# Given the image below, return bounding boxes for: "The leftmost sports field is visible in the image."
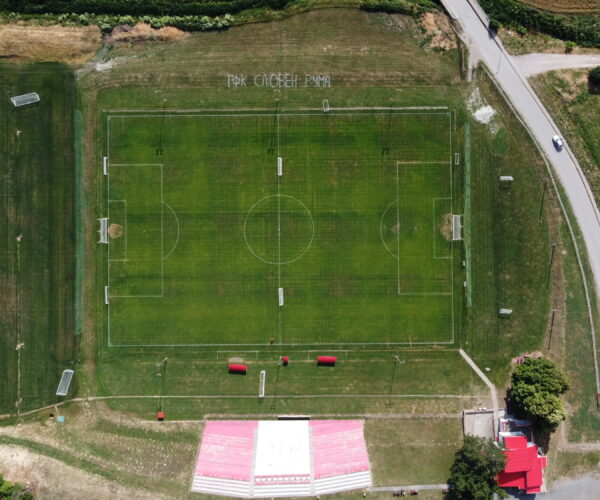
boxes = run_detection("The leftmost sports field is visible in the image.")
[0,66,76,398]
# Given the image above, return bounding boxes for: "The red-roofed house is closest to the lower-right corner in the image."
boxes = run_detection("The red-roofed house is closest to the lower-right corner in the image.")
[497,417,547,495]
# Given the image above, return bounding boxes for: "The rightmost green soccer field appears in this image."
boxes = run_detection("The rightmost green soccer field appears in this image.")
[107,112,455,360]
